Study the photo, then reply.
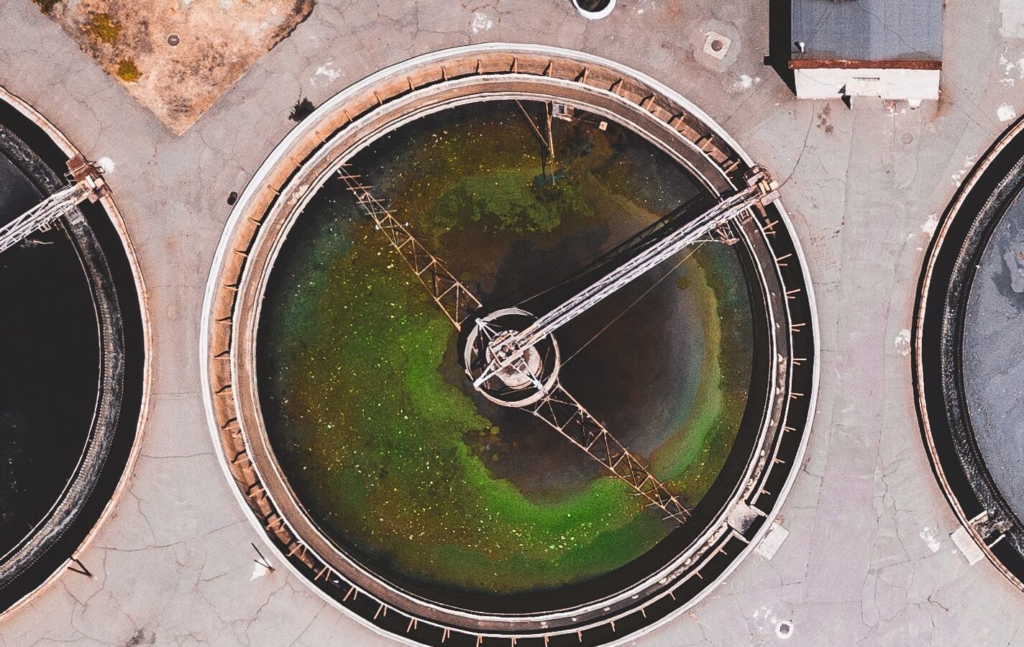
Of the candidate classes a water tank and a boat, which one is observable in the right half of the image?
water tank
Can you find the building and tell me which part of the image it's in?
top right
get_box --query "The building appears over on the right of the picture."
[788,0,943,114]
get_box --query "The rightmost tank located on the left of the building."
[201,42,820,647]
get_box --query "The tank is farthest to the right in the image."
[916,121,1024,588]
